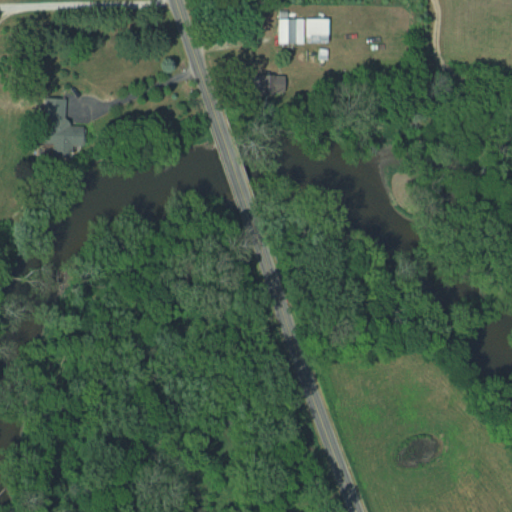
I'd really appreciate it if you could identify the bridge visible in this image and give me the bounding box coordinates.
[210,126,260,217]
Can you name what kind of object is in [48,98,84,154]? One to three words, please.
house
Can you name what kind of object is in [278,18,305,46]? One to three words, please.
barn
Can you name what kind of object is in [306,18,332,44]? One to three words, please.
building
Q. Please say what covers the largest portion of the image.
trees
